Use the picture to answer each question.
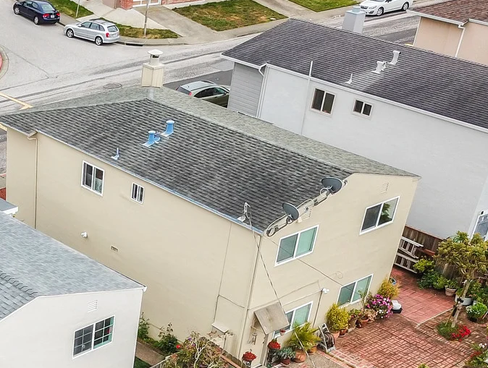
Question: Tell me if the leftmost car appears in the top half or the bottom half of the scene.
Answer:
top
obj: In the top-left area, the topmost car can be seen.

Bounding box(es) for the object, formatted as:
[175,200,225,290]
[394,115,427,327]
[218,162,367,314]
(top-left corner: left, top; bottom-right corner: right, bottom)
[10,0,63,25]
